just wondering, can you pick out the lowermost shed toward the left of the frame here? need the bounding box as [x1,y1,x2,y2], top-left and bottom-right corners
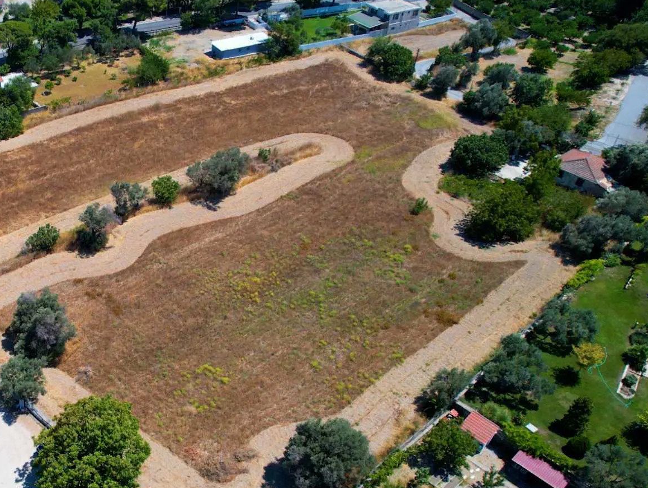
[210,33,273,62]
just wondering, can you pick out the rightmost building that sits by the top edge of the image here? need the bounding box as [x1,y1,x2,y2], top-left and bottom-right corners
[366,0,422,34]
